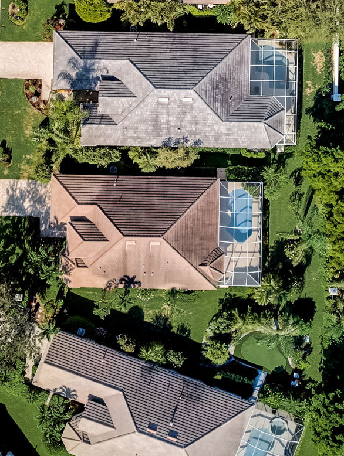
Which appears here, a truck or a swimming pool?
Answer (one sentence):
This aerial view contains a swimming pool.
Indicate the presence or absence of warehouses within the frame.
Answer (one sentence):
No, the scene contains no warehouse.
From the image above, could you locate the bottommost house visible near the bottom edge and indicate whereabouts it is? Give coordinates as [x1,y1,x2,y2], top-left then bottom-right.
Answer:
[33,327,255,456]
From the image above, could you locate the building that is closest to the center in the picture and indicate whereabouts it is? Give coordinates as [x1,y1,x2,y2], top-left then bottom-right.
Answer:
[49,175,225,290]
